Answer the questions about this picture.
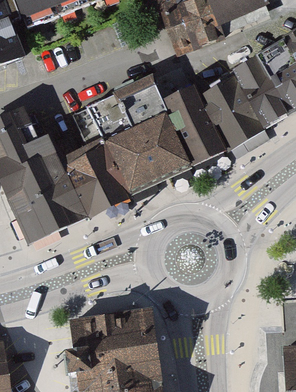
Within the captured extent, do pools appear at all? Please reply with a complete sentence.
No, I find no pool anywhere in the image.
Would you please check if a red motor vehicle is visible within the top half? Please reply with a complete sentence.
Yes, the scene does show a red motor vehicle within the top half.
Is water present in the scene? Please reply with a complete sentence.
No, water can't be seen anywhere here.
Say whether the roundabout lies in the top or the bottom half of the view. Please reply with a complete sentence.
It is in the bottom half that the roundabout appears.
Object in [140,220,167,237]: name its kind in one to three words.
vehicle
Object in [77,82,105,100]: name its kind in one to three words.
vehicle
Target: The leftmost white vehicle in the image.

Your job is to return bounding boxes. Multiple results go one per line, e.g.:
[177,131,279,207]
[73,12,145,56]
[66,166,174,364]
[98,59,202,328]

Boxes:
[26,289,44,317]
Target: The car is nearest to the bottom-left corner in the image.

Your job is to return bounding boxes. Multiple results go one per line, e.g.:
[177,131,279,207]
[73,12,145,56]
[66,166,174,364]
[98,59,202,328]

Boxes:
[11,380,32,392]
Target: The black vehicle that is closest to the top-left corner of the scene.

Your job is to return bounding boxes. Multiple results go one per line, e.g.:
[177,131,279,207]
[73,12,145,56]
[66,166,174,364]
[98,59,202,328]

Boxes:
[66,43,80,64]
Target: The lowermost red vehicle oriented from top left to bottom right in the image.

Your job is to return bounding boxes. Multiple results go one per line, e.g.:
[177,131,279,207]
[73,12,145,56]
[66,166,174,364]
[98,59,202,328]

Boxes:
[64,92,79,112]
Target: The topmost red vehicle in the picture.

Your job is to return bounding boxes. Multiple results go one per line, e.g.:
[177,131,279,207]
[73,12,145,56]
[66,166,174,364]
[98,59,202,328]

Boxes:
[41,52,55,73]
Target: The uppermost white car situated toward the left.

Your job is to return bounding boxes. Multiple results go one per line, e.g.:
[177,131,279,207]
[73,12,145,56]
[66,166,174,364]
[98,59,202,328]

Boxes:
[54,47,69,69]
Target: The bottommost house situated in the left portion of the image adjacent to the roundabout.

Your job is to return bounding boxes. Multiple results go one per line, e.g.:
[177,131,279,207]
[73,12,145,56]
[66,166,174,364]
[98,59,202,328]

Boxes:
[65,306,165,392]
